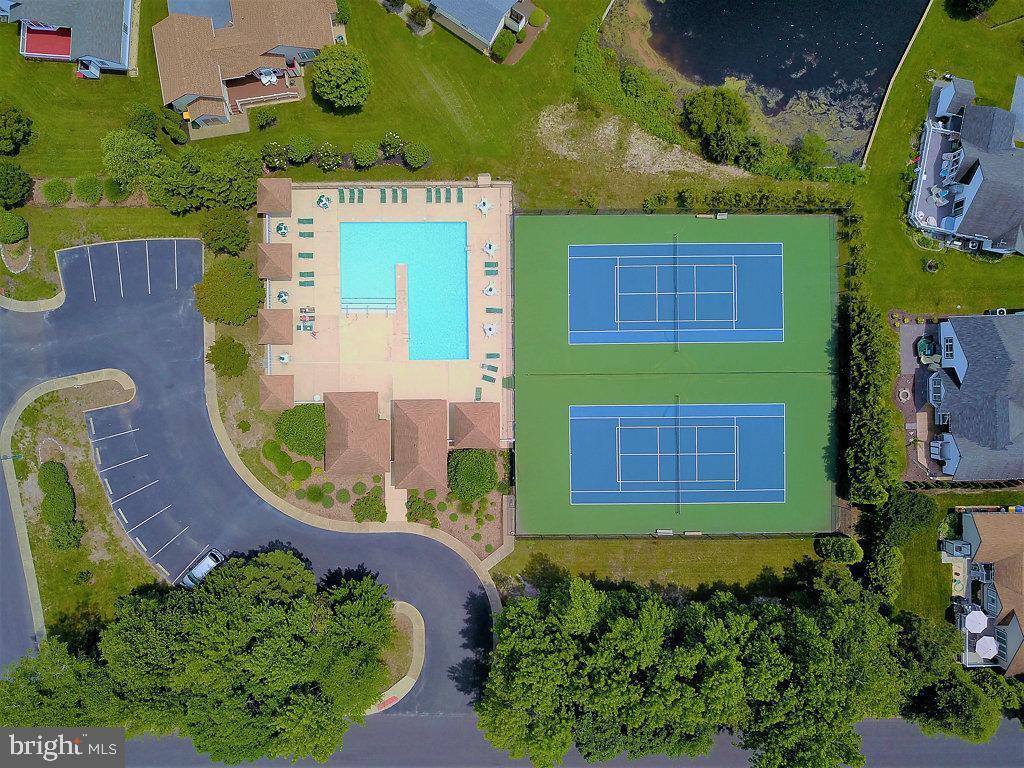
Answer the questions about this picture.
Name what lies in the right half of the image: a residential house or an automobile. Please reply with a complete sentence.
The one visible in the right half of the image is a residential house.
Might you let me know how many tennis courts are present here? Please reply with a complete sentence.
Altogether the scene contains 2 tennis courts.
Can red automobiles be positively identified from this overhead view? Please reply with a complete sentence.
No, the scene contains no red automobile.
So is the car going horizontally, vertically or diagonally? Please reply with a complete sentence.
Seen from above, the car lies diagonally.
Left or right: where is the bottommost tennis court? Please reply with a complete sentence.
It is on the right.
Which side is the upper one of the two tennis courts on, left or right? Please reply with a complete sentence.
The upper one of the two tennis courts is on the right side of the image.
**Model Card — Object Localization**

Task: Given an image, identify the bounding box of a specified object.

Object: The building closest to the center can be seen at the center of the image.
[455,402,501,447]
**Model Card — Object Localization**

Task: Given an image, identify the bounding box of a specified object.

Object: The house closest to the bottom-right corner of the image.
[946,512,1024,672]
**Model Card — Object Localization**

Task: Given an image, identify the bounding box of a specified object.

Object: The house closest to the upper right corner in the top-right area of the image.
[908,79,1024,255]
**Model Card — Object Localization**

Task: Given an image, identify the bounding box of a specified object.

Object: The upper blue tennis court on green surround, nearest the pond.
[515,213,836,374]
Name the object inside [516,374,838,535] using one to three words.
tennis court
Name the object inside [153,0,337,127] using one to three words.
house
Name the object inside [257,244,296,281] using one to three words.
building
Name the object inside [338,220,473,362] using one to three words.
swimming pool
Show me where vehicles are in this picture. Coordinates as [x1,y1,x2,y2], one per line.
[181,549,224,591]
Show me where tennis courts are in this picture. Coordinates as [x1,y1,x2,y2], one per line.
[516,374,838,535]
[515,213,836,374]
